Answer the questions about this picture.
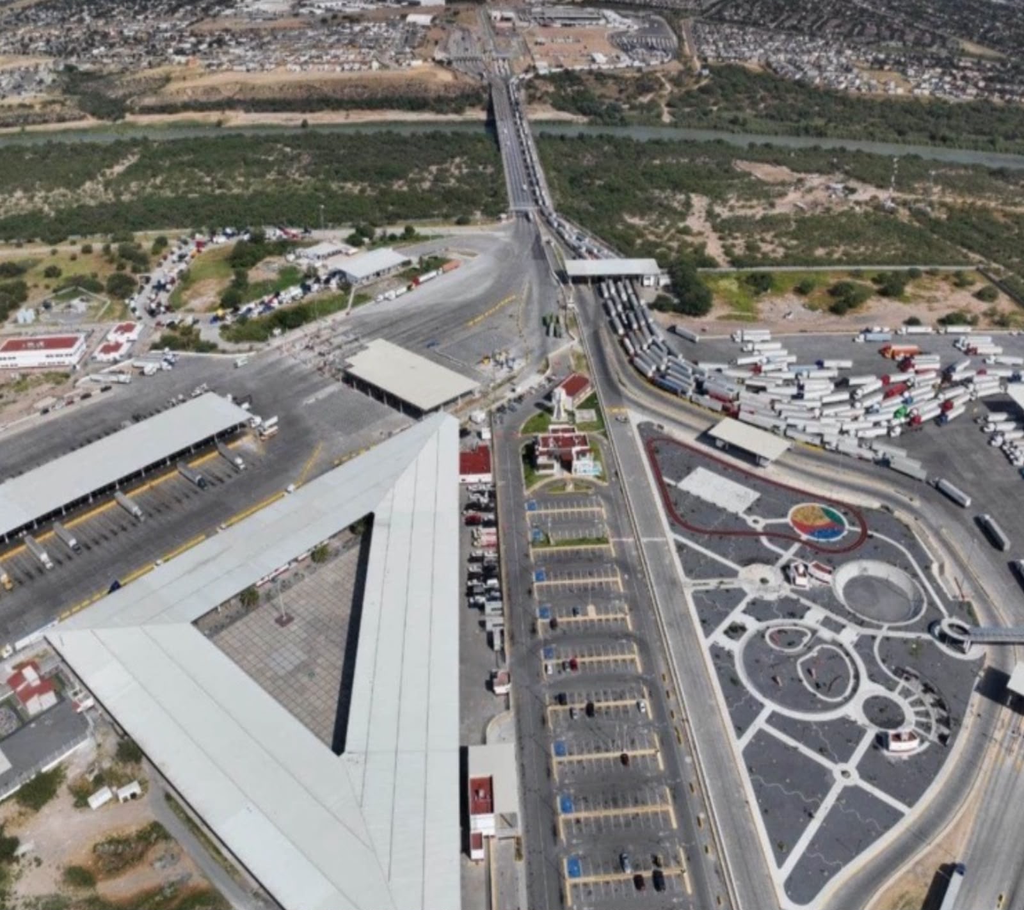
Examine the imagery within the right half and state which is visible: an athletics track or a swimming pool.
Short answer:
athletics track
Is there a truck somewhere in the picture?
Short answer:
Yes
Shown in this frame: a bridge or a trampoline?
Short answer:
bridge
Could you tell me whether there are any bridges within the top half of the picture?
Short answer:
Yes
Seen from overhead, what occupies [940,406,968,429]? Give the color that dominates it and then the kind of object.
white truck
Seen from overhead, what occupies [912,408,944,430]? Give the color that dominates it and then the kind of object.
white truck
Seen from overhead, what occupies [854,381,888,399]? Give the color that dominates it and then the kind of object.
white vehicle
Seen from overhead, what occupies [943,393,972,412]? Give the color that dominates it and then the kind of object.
white vehicle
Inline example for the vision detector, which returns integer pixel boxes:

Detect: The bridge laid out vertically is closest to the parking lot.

[490,82,561,226]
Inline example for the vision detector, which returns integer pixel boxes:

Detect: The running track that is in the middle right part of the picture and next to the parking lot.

[648,436,870,553]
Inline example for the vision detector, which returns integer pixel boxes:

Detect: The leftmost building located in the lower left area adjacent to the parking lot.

[48,413,460,910]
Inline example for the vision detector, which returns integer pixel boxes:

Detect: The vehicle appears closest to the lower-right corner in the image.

[937,854,966,910]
